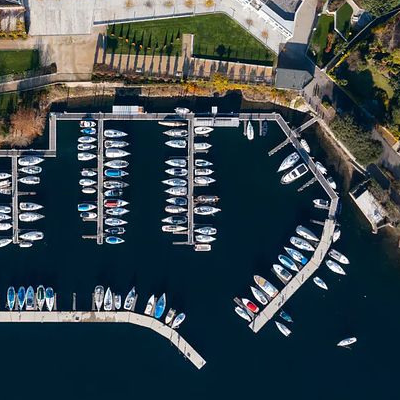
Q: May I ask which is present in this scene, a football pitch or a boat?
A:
boat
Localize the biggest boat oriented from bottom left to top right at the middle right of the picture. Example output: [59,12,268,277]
[282,161,310,183]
